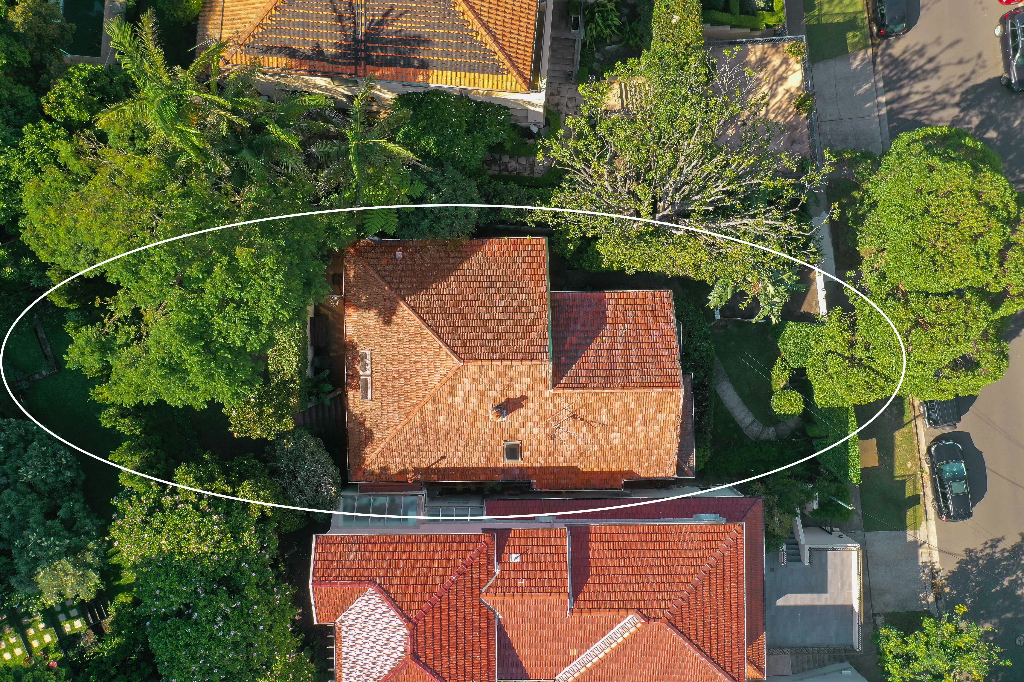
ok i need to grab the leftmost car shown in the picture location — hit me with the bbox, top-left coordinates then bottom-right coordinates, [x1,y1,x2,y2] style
[870,0,910,42]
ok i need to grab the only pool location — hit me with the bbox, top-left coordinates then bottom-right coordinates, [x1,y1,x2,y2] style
[42,0,130,70]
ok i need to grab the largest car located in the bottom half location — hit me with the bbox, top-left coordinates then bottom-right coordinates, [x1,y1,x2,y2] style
[923,437,975,526]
